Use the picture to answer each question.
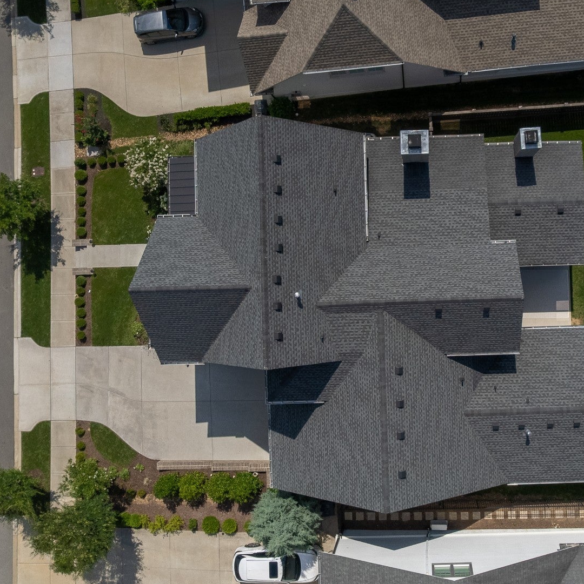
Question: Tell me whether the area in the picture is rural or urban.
urban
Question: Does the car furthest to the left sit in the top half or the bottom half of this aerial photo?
top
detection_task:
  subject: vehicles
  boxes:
[235,543,317,584]
[132,5,205,47]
